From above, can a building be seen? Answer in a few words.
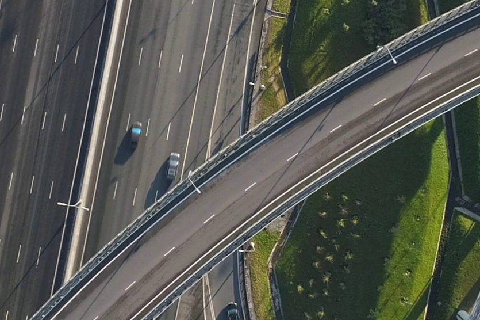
No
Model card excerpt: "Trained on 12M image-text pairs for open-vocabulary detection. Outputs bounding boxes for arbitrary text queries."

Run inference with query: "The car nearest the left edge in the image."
[129,122,142,148]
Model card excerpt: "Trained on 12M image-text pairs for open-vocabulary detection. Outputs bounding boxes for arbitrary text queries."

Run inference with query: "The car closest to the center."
[166,152,180,181]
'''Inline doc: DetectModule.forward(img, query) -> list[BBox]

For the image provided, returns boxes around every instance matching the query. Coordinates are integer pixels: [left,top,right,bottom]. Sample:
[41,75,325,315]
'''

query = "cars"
[129,122,142,148]
[166,152,180,181]
[225,303,238,320]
